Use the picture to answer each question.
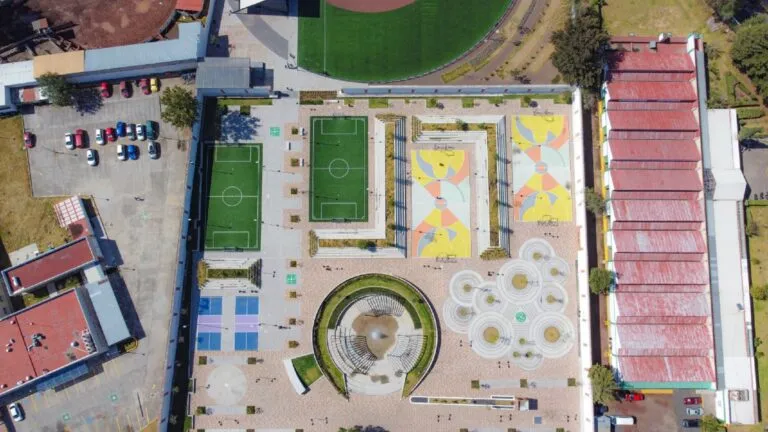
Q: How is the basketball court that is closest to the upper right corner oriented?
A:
vertically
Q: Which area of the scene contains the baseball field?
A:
top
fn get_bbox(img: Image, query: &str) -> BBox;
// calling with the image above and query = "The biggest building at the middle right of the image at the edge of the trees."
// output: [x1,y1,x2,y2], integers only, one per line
[598,38,718,392]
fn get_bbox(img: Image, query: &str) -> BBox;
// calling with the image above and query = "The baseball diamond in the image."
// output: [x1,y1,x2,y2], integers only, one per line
[298,0,514,86]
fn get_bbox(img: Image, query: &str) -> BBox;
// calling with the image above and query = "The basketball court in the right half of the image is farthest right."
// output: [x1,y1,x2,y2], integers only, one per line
[512,107,573,230]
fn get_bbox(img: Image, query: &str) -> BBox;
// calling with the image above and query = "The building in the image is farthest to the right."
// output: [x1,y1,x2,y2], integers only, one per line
[707,110,761,425]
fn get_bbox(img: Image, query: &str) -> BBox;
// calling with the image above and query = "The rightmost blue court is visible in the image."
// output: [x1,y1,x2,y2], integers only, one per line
[232,296,259,350]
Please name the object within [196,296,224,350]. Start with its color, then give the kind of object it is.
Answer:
blue sports court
